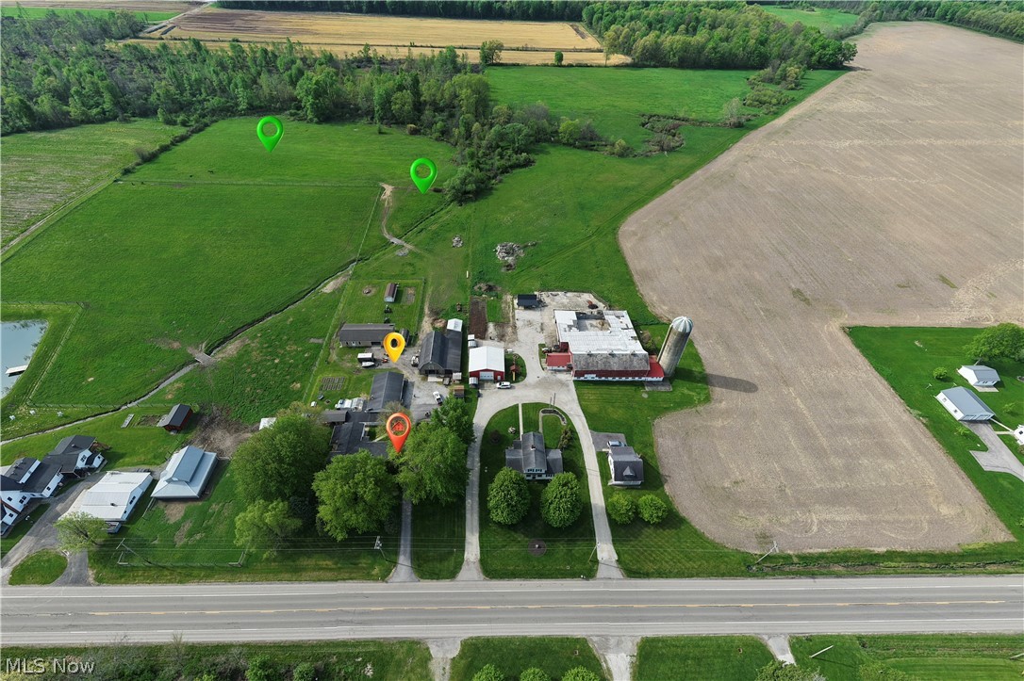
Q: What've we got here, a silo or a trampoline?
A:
silo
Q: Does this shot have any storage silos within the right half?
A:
Yes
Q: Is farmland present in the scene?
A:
Yes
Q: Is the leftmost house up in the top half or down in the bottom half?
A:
bottom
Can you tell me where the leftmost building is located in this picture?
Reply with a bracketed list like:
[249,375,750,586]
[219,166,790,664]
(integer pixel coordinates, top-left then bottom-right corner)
[0,432,111,517]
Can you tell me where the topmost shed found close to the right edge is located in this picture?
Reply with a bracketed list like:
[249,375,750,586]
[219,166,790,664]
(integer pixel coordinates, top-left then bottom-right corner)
[960,360,1002,387]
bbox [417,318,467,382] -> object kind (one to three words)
barn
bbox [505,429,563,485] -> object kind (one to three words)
house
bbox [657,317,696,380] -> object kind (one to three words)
silo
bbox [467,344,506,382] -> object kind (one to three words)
building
